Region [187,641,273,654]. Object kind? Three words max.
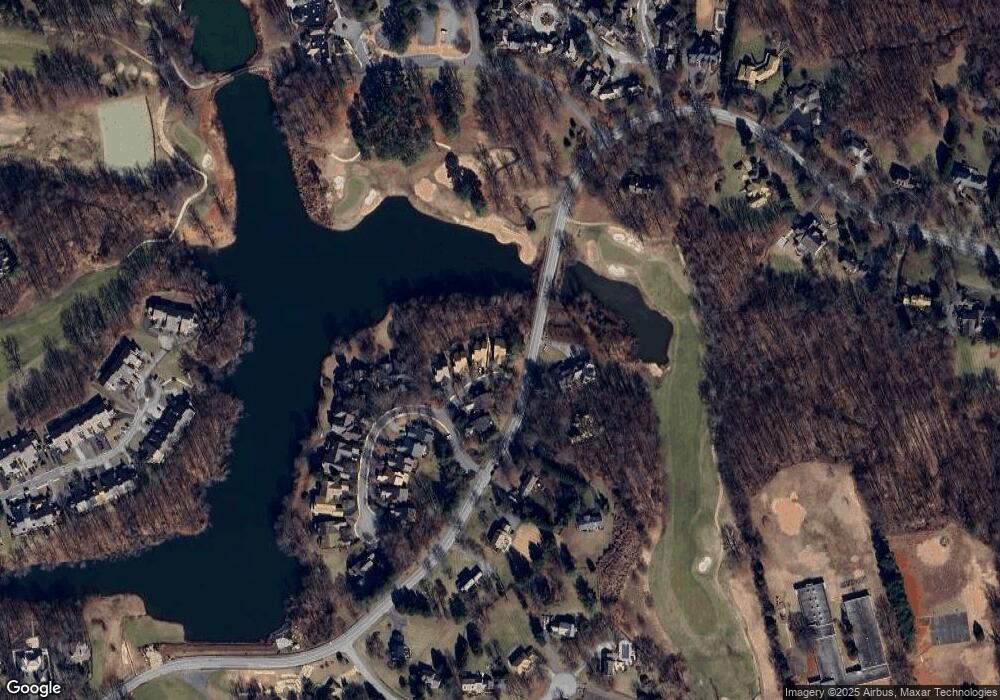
dam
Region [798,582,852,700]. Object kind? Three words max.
building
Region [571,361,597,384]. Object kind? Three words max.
house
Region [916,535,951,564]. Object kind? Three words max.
baseball field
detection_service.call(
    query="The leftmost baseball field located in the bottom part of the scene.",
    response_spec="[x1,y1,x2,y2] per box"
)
[772,495,804,527]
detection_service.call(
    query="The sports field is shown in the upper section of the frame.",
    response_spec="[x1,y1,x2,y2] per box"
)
[97,97,155,168]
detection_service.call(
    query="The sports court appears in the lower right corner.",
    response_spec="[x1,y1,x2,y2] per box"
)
[931,612,970,645]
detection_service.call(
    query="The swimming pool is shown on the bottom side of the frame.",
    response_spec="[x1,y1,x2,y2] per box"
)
[619,641,632,661]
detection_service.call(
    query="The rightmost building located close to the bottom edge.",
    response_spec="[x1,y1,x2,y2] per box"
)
[844,595,891,689]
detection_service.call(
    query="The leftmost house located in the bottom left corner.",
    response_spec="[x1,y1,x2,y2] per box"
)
[20,652,47,681]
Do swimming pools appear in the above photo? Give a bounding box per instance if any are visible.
[619,641,632,661]
[715,11,726,30]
